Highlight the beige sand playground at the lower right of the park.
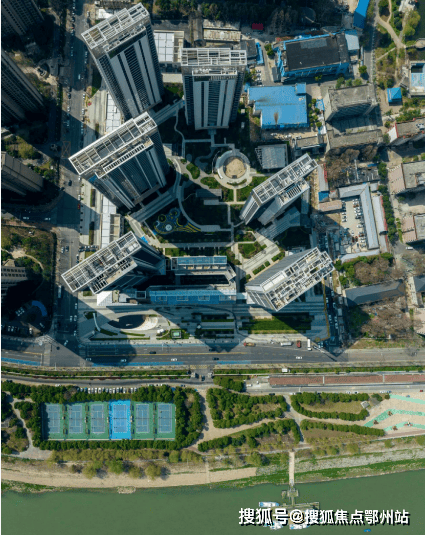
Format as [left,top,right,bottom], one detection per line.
[353,392,425,438]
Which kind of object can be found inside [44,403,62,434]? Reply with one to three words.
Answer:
tennis court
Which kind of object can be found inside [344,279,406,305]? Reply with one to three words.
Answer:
building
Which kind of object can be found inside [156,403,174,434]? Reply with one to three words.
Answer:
tennis court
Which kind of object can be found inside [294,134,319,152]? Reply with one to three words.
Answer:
shed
